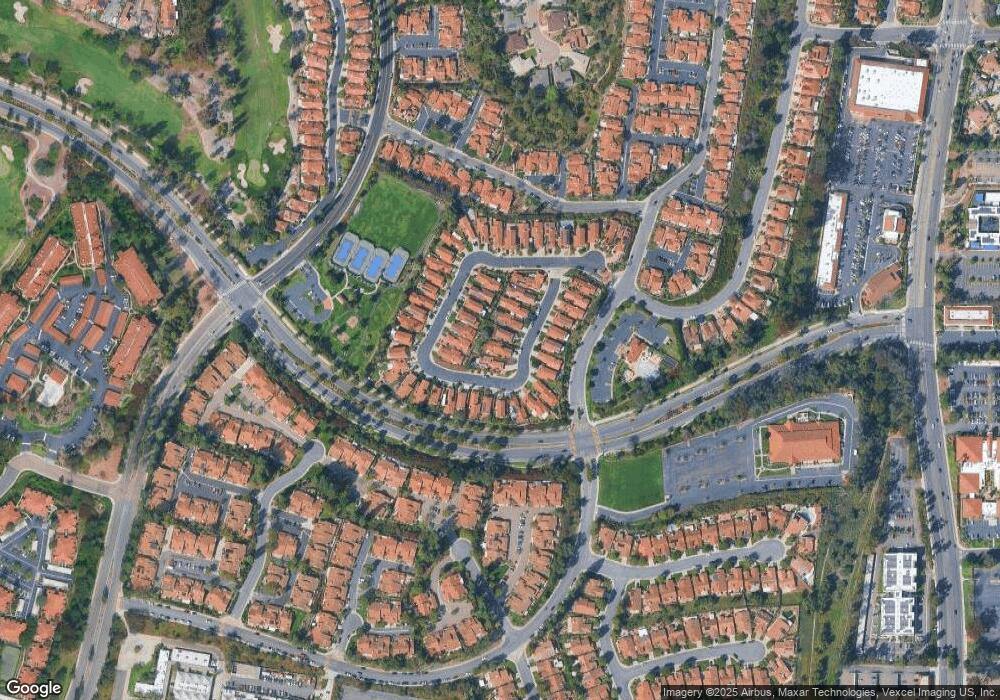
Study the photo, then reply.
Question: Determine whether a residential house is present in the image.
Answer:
Yes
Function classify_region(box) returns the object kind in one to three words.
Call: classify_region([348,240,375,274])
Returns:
tennis court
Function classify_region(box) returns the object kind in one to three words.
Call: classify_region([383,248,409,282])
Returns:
tennis court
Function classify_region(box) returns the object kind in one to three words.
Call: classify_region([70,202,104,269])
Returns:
building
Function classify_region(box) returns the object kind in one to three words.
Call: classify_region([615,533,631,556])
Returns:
house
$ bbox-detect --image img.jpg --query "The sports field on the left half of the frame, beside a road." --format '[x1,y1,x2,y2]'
[348,173,438,255]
